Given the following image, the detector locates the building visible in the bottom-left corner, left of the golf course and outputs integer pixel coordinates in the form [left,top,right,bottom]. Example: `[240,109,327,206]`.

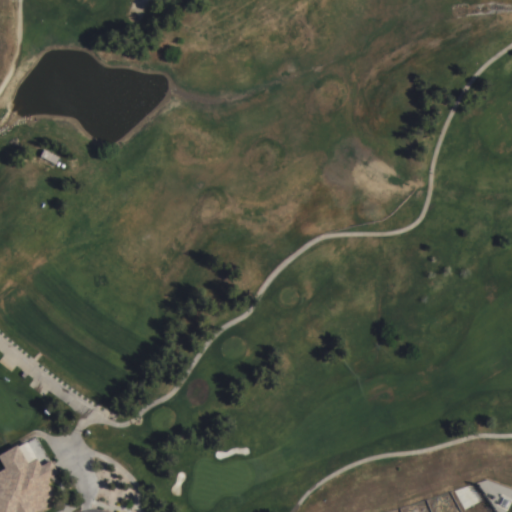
[0,438,54,512]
